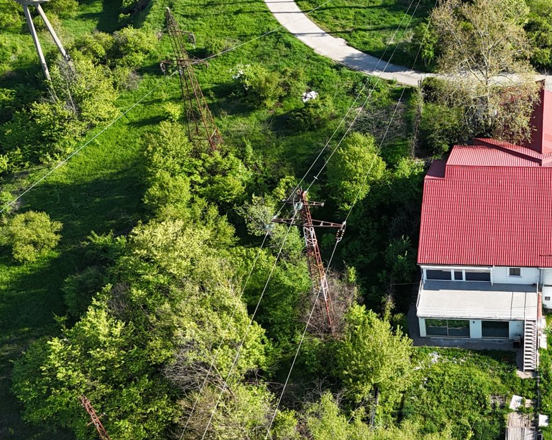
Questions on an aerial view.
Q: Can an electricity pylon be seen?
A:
Yes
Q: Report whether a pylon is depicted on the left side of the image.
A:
Yes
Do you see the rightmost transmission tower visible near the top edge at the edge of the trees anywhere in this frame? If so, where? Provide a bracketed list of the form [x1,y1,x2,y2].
[151,9,219,152]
